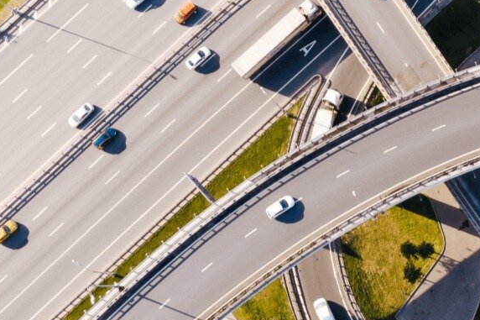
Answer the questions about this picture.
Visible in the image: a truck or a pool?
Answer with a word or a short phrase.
truck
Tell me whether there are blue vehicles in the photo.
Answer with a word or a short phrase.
Yes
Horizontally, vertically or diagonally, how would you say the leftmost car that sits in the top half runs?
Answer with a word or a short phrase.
diagonally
